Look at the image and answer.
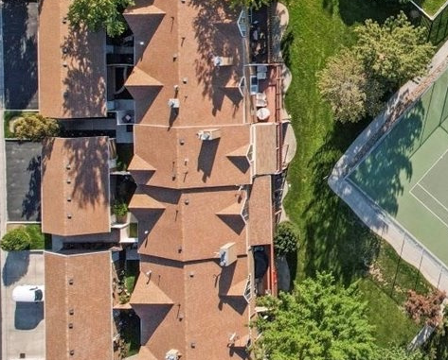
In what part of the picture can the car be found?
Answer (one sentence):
The car sits in the bottom left section of the image.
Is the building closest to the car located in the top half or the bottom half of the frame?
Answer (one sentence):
You can find the building closest to the car in the bottom half.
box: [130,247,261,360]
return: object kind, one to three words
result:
house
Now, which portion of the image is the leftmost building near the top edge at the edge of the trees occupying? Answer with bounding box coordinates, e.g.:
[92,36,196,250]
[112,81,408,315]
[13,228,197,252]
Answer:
[39,0,113,119]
